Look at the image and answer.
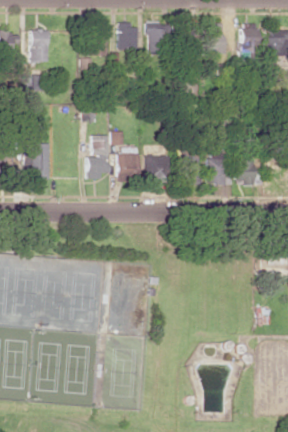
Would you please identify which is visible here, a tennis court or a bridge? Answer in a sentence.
The one in the frame is a tennis court.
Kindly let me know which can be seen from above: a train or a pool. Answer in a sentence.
It is a pool that can be seen here.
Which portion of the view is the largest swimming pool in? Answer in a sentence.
The largest swimming pool sits in the bottom right section of the image.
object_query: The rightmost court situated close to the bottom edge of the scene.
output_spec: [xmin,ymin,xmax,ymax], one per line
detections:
[102,335,146,410]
